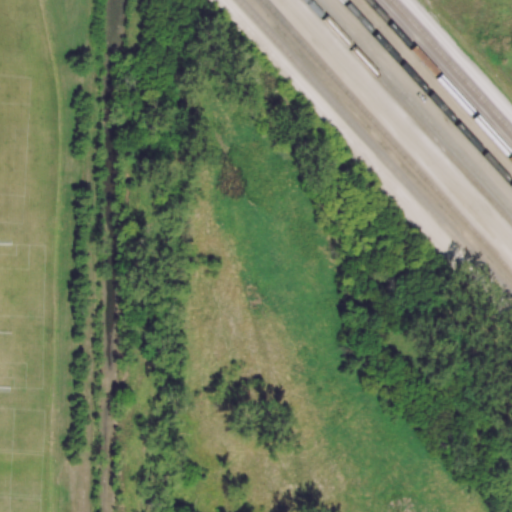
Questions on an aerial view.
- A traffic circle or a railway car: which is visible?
railway car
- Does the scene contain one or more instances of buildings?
No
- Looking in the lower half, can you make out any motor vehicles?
No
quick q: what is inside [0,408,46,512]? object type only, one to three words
sports field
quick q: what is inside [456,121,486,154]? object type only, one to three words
rail car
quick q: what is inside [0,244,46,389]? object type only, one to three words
sports field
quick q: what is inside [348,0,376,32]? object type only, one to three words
rail car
